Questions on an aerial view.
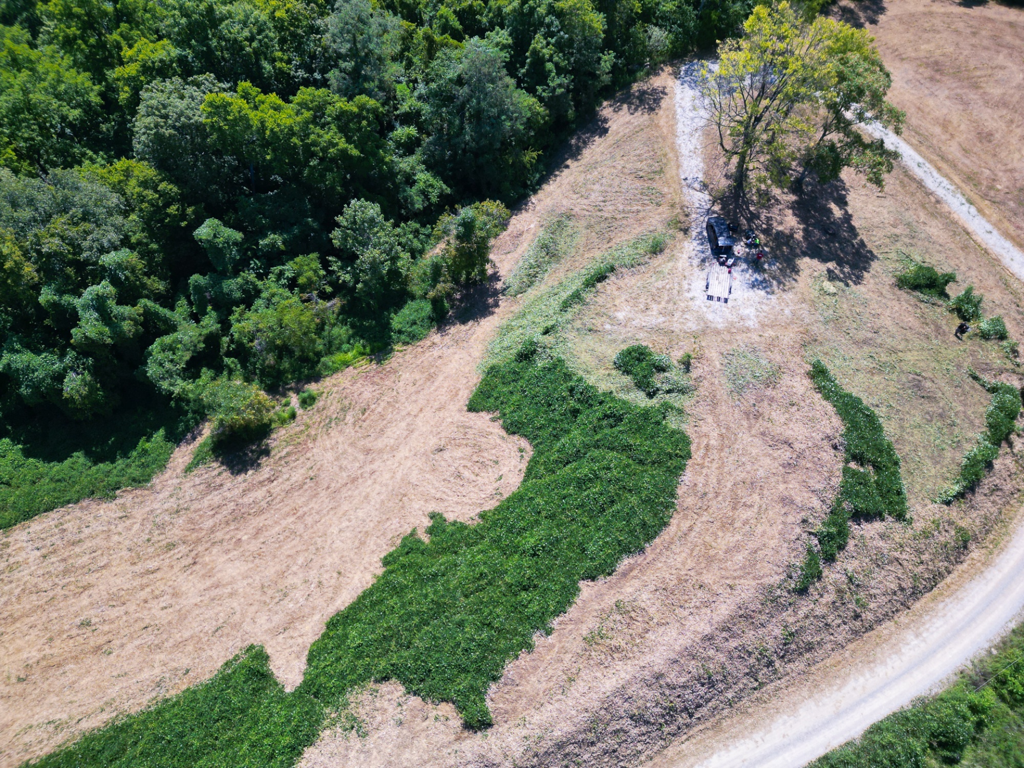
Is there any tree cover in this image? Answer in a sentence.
Yes, there's tree cover in this view.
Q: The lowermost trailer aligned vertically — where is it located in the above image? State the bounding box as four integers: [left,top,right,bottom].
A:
[705,256,734,315]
